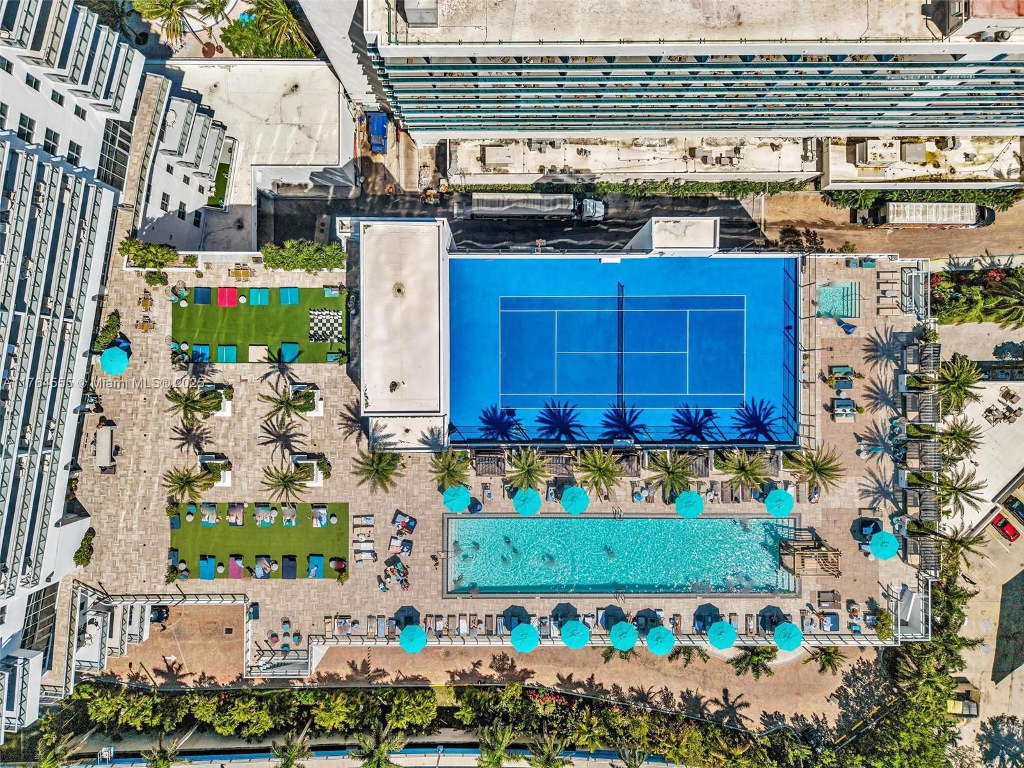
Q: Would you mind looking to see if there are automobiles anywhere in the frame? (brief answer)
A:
Yes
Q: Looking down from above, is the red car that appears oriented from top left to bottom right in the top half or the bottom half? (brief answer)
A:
bottom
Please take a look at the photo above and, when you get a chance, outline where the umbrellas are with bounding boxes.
[100,345,133,374]
[512,622,541,651]
[772,621,800,649]
[705,617,734,648]
[675,489,704,518]
[608,618,637,648]
[867,533,898,561]
[560,488,587,515]
[644,626,672,654]
[511,488,540,517]
[444,484,472,511]
[559,619,586,647]
[397,625,425,653]
[467,503,483,515]
[766,490,793,517]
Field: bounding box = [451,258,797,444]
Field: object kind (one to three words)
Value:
tennis court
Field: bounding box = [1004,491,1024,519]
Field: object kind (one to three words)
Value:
car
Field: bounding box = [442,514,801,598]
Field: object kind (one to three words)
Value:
swimming pool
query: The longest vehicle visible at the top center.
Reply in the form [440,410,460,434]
[455,194,606,223]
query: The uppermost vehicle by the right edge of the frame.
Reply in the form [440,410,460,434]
[839,202,990,231]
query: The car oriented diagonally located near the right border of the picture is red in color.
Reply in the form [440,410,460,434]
[985,511,1023,545]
